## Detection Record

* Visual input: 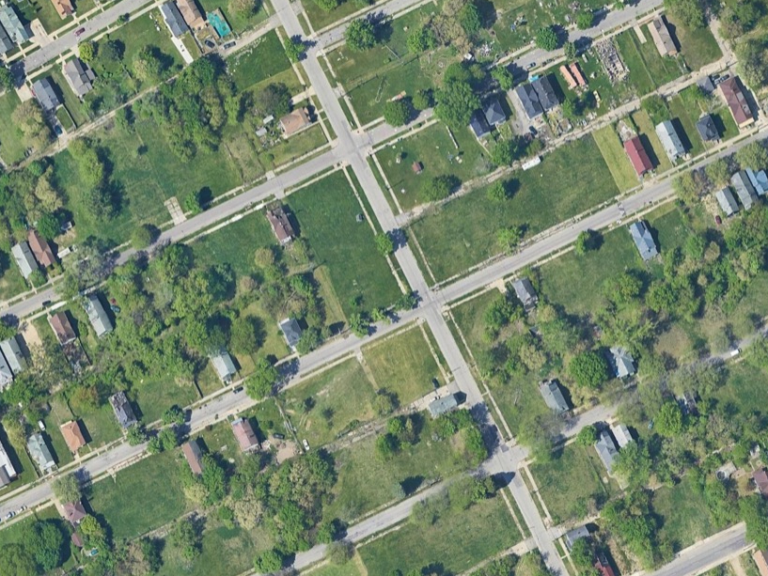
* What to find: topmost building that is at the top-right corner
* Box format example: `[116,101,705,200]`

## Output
[648,14,680,59]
